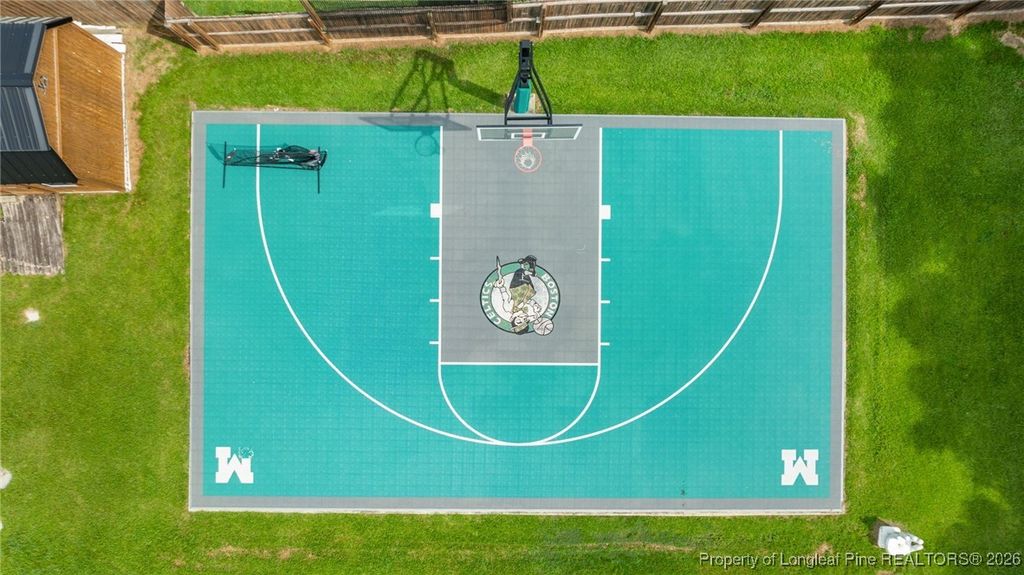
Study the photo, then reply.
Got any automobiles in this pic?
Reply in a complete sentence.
No, the scene contains no automobile.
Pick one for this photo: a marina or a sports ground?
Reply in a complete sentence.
The area seen from above is a sports ground.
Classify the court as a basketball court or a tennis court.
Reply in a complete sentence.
The court appears to be a basketball court.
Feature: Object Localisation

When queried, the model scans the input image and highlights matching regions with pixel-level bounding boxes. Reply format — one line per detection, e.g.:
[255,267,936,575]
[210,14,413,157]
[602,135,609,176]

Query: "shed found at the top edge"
[0,17,128,194]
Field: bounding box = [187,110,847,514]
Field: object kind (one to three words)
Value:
basketball court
